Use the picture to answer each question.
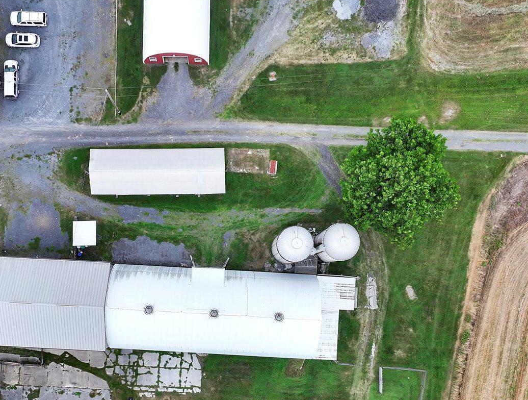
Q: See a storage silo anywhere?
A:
Yes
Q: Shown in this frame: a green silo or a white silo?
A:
white silo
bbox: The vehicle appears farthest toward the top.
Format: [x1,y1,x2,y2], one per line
[12,12,50,32]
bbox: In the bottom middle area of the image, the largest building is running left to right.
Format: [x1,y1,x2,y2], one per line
[103,264,323,358]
